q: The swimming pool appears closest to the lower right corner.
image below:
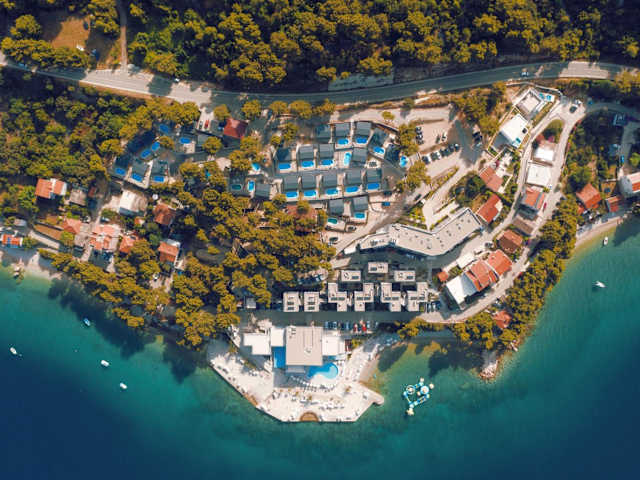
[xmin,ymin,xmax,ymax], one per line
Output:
[306,361,338,379]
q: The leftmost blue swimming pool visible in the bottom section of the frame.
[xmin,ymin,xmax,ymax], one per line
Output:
[272,346,287,368]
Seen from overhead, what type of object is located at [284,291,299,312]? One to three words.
building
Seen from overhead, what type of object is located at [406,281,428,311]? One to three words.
building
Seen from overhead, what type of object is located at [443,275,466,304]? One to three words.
house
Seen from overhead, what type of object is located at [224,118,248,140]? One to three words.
house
